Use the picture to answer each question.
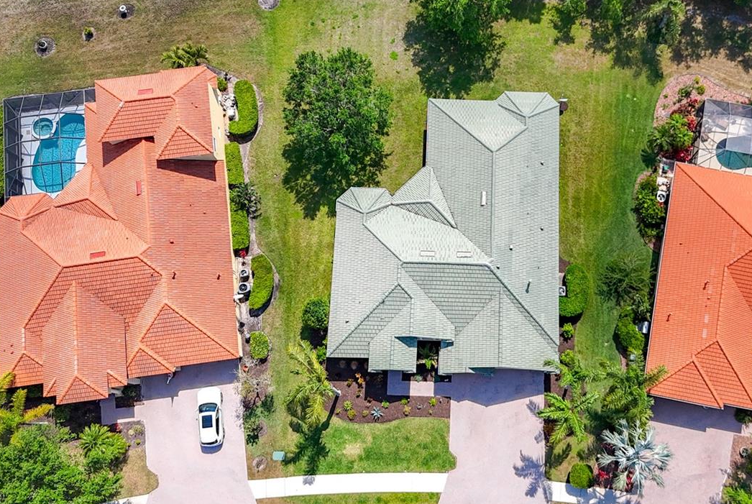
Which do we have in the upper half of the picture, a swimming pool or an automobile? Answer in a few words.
swimming pool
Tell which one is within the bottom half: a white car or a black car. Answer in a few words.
white car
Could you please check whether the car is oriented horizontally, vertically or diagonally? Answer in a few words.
vertically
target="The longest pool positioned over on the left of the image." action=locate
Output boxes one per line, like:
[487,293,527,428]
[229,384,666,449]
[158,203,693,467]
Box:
[29,111,89,194]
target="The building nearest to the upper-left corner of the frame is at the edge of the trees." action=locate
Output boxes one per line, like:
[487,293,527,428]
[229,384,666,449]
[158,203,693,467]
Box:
[0,64,247,407]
